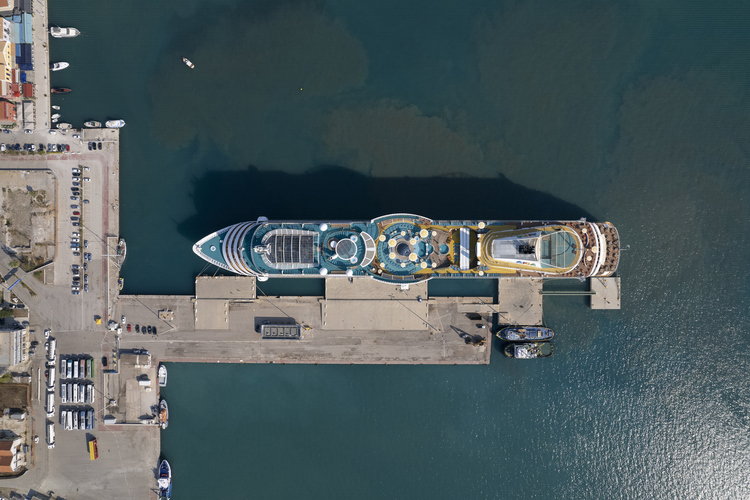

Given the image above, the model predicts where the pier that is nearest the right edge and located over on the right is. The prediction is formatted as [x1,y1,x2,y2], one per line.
[589,277,620,309]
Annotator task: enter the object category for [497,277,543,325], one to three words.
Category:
pier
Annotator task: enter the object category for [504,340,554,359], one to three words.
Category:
boat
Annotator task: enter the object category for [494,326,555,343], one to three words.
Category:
boat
